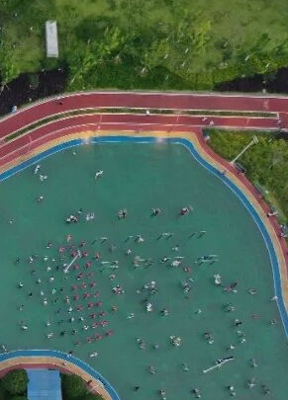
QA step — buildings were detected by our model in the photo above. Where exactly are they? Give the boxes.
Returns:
[42,22,58,66]
[23,370,62,400]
